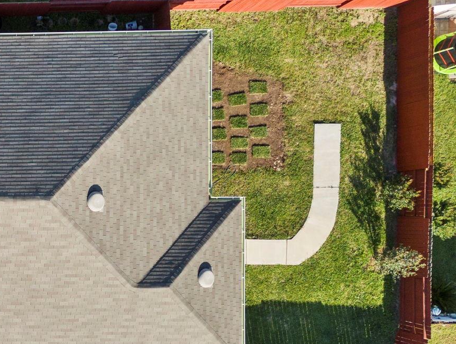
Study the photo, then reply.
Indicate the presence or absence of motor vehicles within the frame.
No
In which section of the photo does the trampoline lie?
top right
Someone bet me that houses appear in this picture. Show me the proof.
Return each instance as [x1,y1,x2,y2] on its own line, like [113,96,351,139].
[428,0,456,16]
[0,27,247,344]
